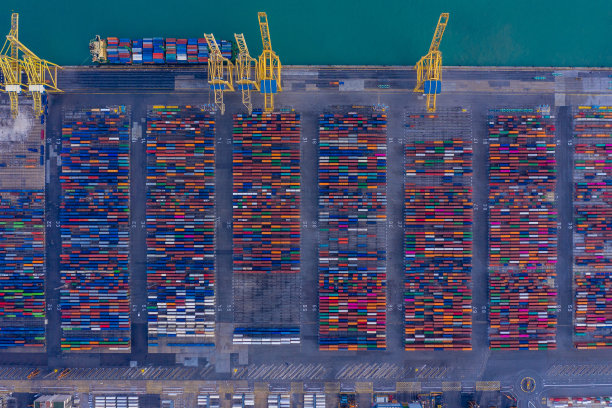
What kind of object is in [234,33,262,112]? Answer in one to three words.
container crane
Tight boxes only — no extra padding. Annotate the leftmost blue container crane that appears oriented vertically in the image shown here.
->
[257,15,285,111]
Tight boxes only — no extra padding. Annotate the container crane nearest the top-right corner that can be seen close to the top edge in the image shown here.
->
[411,15,448,111]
